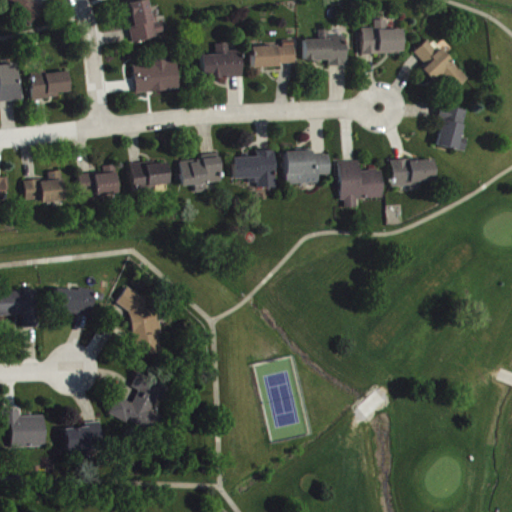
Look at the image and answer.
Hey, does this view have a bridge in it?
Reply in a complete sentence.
Yes, I can see a bridge in this picture.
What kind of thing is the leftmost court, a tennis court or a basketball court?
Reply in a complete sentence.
I'd say the leftmost court is a tennis court.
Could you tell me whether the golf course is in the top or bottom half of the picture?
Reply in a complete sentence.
Seen from above, the golf course lies in the bottom half of the view.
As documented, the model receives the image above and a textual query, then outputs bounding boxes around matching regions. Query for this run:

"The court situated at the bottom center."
[252,354,312,444]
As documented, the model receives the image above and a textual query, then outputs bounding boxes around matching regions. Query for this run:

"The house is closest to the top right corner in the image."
[413,40,470,86]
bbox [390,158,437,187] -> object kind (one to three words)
house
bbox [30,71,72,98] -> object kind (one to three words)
house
